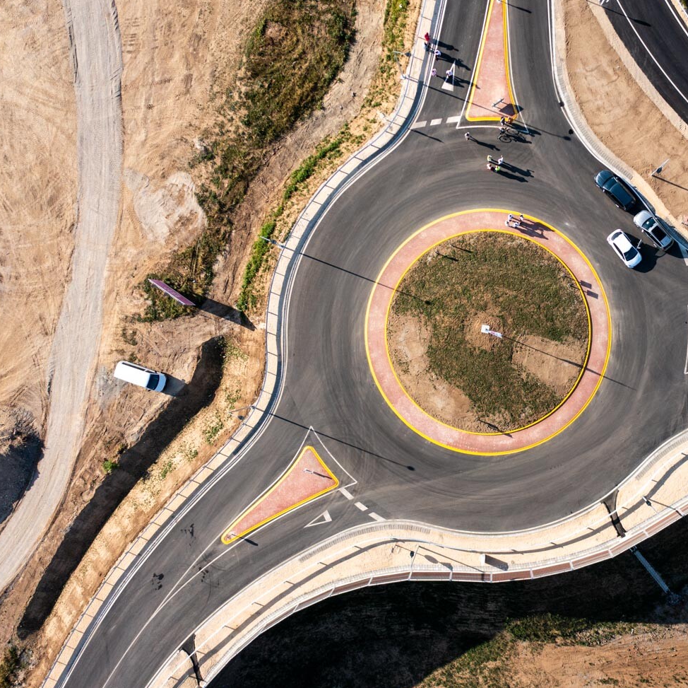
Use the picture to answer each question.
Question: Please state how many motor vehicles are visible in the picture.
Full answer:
My tally gives 4 motor vehicles in this view.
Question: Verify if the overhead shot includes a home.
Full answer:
No, I can see no home in this picture.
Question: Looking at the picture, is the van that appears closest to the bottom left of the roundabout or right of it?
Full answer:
Looking at the photo, the van that appears closest to the bottom lies to the left of the roundabout.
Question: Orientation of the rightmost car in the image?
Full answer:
The rightmost car has been laid out at an angle relative to the frame.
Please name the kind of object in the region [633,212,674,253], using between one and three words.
car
